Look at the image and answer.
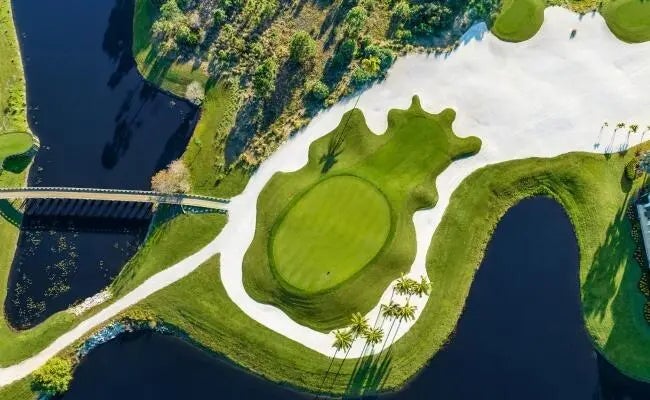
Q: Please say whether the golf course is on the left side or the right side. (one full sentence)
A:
The golf course appears in the right half of the scene.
